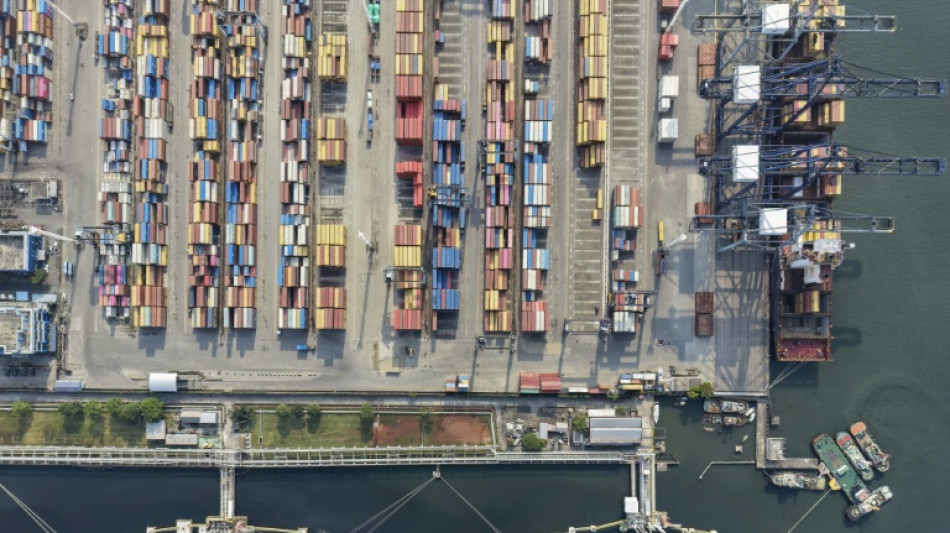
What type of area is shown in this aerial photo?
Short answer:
port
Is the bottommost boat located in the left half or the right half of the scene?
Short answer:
right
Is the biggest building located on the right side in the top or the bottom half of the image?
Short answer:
bottom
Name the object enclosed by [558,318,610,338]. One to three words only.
container crane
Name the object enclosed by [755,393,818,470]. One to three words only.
pier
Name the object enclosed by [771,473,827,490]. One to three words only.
boat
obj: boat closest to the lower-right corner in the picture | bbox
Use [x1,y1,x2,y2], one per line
[846,487,894,519]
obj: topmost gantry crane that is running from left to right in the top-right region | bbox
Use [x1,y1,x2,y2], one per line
[694,0,900,85]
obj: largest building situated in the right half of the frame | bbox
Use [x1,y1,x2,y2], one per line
[588,417,642,444]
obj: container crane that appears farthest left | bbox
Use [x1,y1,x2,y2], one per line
[78,225,143,250]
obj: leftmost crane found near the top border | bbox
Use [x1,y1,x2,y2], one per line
[217,10,273,47]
